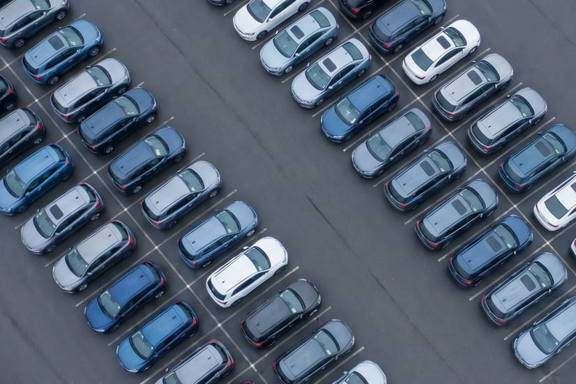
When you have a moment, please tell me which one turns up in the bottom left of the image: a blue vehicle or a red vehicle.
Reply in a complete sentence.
The one visible in the bottom left of the image is a blue vehicle.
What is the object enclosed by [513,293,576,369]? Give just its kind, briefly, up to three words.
car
